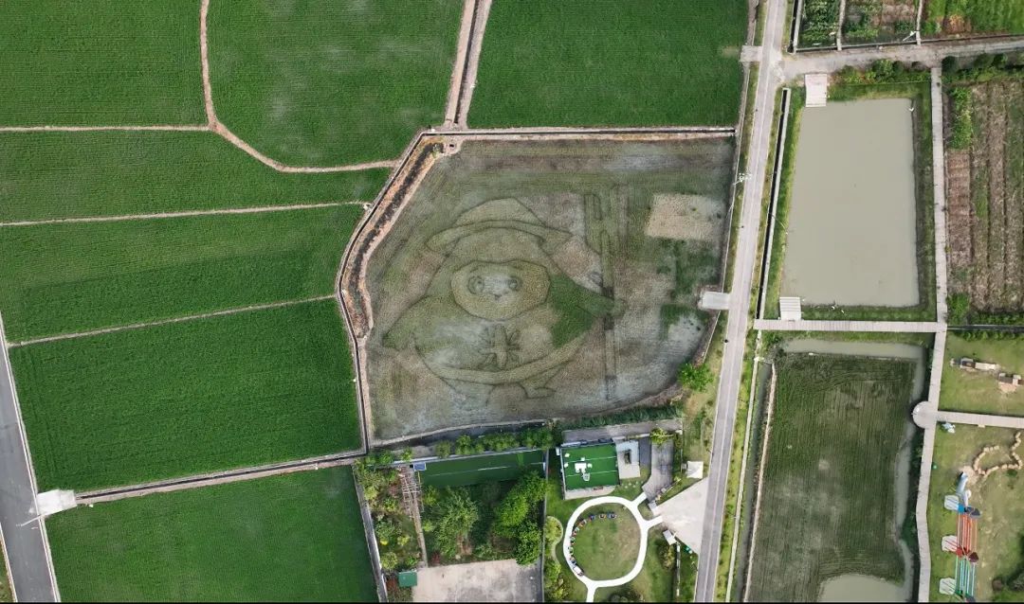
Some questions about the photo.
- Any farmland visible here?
Yes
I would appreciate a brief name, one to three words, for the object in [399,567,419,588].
shed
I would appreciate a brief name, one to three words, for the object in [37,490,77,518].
bridge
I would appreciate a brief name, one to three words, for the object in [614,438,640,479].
building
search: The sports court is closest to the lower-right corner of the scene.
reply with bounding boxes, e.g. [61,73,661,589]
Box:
[563,443,618,489]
